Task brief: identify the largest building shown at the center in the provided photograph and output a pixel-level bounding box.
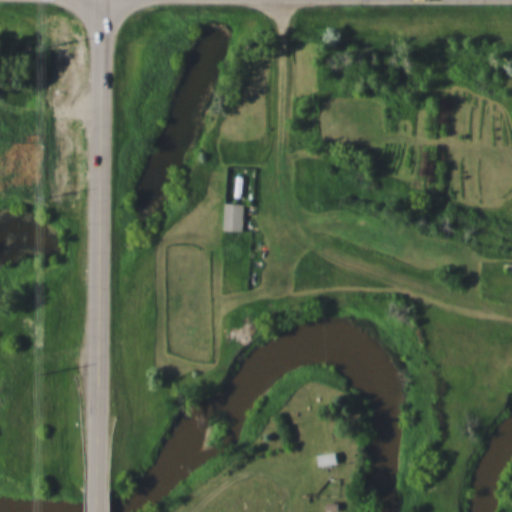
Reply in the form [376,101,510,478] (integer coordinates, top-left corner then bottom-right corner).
[224,204,244,232]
